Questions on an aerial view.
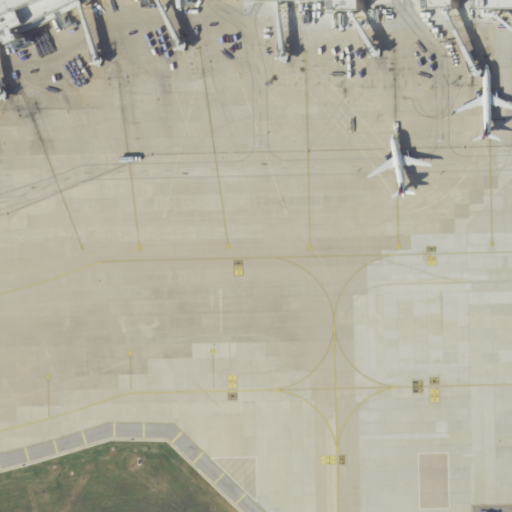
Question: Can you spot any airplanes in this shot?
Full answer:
Yes, I can see an airplane in this picture.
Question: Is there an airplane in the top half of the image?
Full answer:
Yes, in the top half of the image there is an airplane.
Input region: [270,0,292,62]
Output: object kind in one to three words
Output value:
jet bridge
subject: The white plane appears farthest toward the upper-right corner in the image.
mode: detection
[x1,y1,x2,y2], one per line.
[452,65,512,141]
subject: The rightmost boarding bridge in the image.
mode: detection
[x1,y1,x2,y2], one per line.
[480,10,512,33]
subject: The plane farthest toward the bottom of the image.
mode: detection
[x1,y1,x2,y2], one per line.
[368,134,432,198]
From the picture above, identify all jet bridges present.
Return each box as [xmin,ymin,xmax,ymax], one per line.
[441,6,484,76]
[347,8,384,56]
[270,0,292,62]
[77,0,106,66]
[480,10,512,33]
[156,0,190,51]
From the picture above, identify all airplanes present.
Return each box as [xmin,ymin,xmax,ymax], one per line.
[368,134,432,198]
[452,65,512,141]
